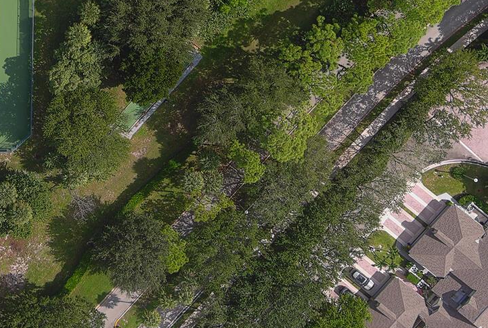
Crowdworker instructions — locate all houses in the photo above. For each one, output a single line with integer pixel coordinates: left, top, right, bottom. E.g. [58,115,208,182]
[342,272,488,328]
[400,203,488,301]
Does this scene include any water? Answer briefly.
No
